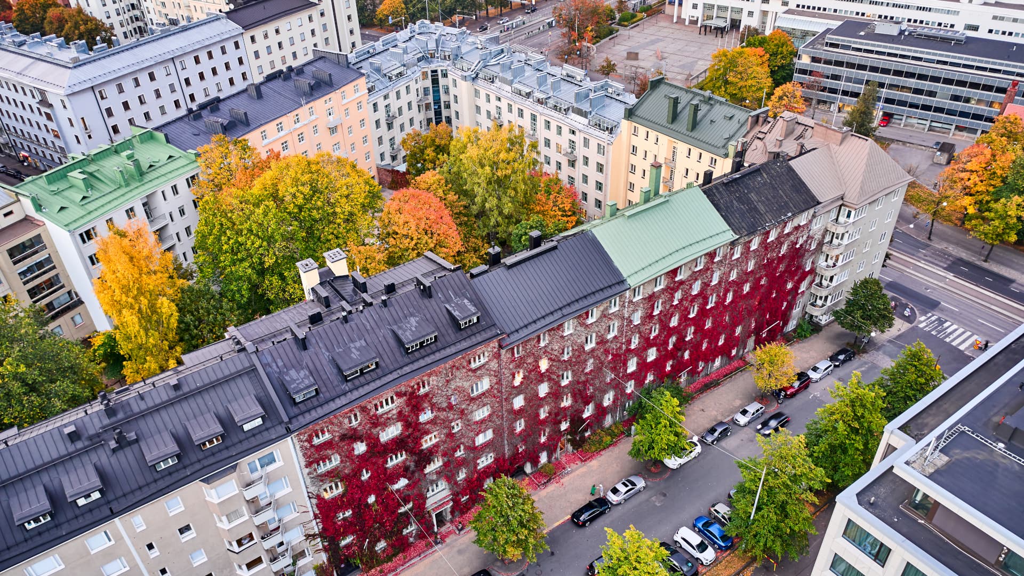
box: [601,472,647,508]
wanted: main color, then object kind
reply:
gray car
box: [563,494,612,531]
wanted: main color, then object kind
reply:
black car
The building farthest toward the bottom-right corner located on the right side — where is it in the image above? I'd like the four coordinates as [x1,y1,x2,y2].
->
[812,318,1024,576]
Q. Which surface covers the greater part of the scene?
buildings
